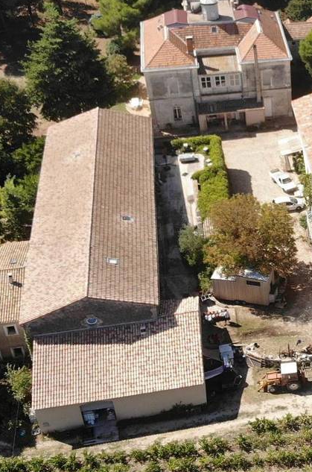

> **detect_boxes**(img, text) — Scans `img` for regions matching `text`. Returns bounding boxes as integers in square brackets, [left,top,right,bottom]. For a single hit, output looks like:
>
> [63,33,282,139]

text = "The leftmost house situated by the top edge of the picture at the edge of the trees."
[140,0,296,133]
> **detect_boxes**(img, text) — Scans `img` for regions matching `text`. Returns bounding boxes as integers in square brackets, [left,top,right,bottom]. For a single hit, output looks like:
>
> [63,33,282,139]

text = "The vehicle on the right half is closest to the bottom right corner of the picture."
[256,362,307,393]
